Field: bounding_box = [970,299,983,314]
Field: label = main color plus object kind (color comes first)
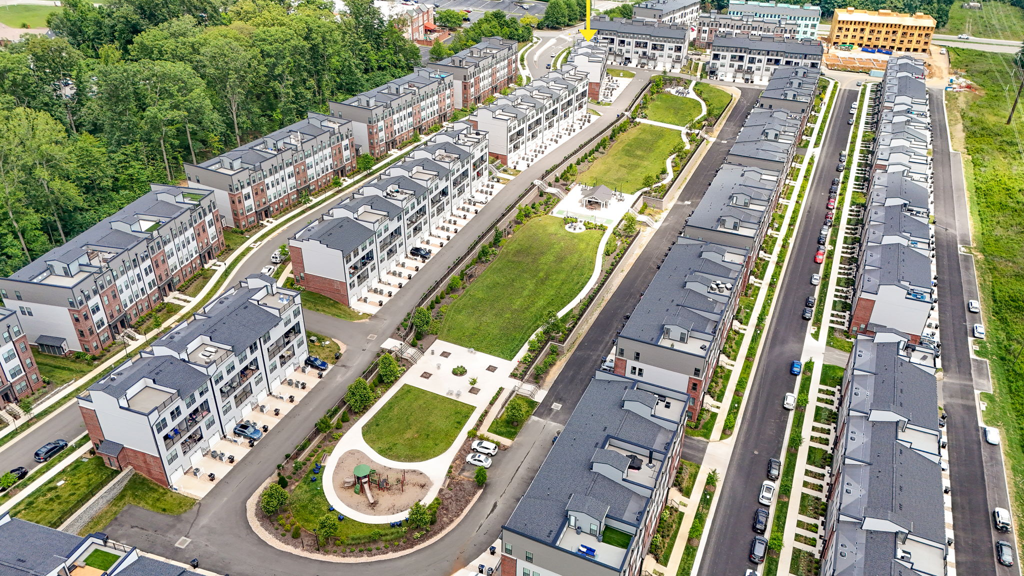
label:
white vehicle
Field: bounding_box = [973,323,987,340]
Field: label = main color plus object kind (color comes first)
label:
white car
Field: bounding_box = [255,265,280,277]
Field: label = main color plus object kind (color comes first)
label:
white vehicle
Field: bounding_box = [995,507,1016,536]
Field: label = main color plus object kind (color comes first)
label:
white car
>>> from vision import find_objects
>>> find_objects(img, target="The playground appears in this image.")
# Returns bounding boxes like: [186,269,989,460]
[348,471,405,505]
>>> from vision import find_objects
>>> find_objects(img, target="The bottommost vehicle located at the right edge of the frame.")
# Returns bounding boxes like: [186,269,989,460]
[999,540,1020,571]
